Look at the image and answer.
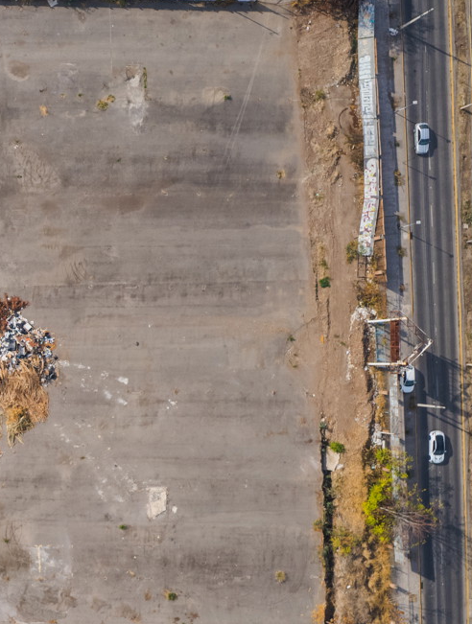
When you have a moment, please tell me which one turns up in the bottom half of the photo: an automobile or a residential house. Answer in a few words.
automobile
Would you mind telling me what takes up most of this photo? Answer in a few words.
paved ground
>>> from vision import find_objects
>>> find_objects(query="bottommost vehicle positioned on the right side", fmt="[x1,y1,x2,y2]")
[424,429,444,464]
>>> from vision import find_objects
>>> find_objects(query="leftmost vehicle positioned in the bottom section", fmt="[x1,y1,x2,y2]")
[395,364,416,395]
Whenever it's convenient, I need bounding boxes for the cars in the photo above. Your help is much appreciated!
[410,121,430,158]
[395,364,416,395]
[424,429,444,464]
